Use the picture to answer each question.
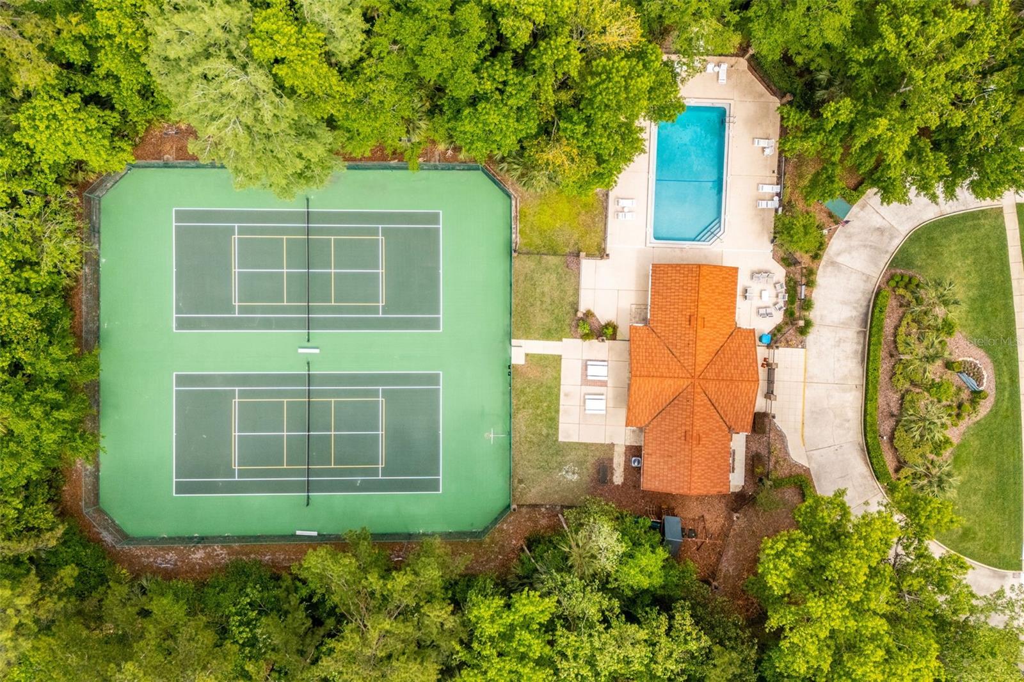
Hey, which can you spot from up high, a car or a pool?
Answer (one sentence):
Looking from above, you can make out a pool.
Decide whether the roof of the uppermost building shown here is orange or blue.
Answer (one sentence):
The color of the roof of the uppermost building is orange.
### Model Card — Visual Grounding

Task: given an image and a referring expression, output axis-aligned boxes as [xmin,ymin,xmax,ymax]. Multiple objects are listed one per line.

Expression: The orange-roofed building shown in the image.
[626,263,760,496]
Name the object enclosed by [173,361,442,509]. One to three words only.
tennis court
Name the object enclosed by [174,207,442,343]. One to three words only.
tennis court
